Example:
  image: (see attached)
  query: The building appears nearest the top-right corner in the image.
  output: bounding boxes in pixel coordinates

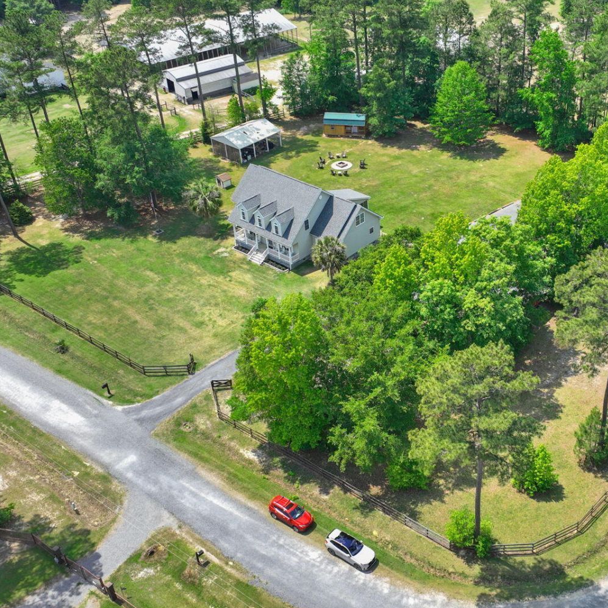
[322,115,367,137]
